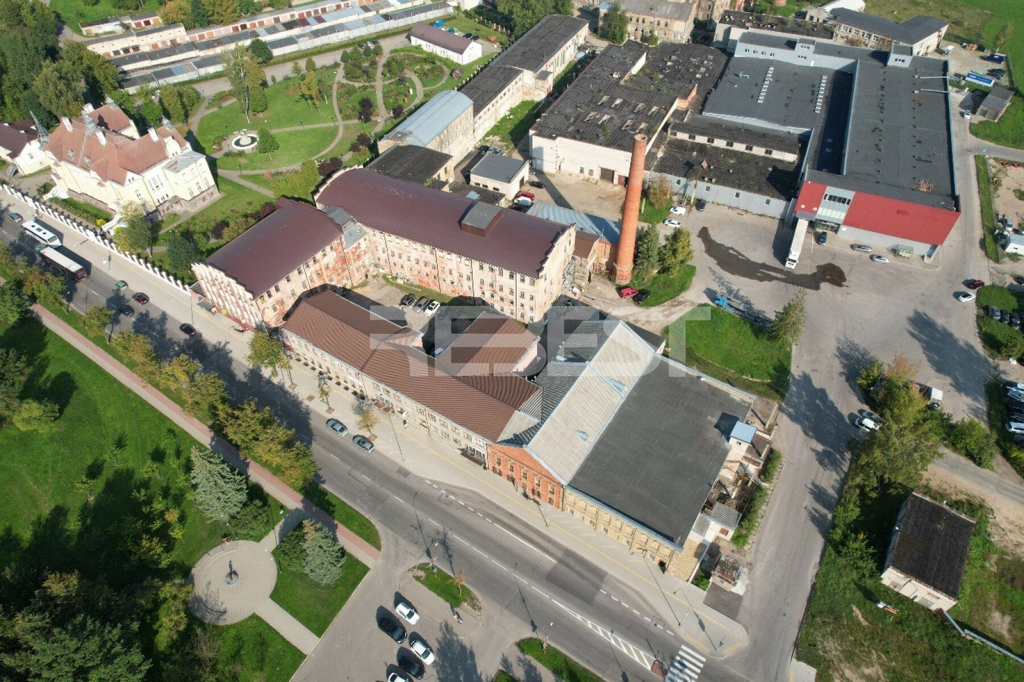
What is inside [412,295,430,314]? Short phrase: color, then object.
gray car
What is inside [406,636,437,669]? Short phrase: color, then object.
white car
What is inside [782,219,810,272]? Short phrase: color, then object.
white truck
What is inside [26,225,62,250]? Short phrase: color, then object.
white vehicle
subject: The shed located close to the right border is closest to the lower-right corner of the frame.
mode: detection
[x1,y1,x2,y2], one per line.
[878,488,979,613]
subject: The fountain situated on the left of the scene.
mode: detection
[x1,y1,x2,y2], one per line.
[230,129,258,148]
